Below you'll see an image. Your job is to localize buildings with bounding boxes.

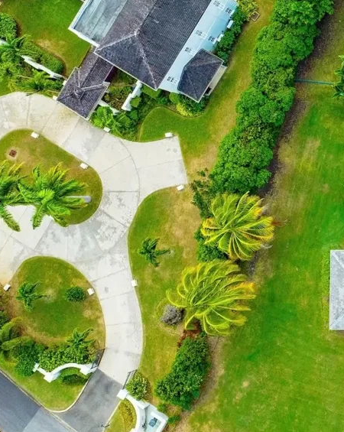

[42,0,239,103]
[328,249,344,330]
